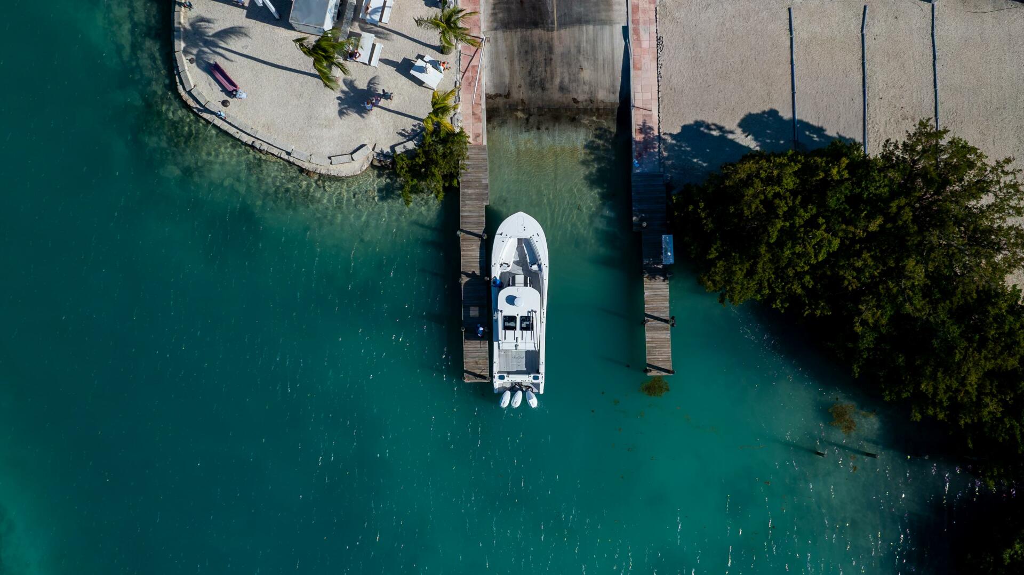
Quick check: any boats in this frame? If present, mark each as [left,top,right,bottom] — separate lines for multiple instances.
[491,211,549,408]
